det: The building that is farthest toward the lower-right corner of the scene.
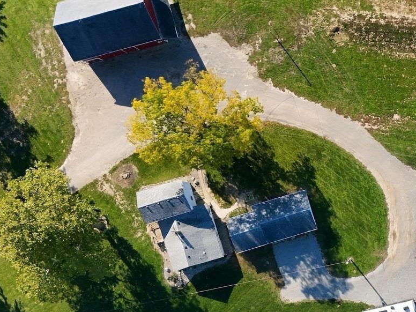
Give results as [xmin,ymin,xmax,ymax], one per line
[228,190,317,253]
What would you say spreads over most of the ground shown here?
grass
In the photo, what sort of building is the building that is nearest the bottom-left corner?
home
